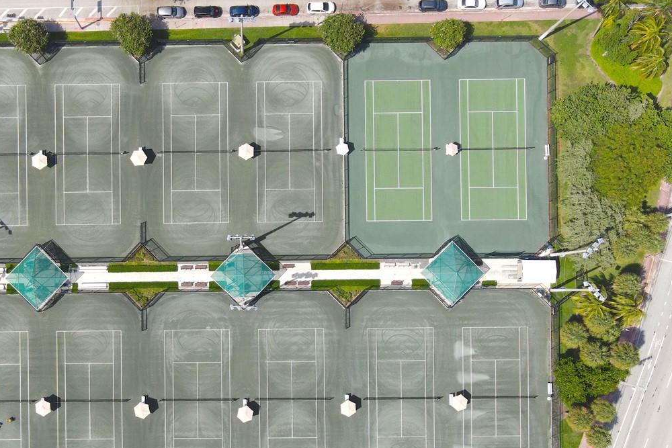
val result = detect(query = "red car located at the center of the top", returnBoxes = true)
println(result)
[271,2,299,17]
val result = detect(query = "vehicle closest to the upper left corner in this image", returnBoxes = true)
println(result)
[158,5,186,20]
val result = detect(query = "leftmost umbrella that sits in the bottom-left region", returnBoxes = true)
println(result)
[35,398,51,415]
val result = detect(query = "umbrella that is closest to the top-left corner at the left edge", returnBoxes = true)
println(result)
[33,151,48,169]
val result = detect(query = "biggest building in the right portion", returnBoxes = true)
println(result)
[422,241,484,305]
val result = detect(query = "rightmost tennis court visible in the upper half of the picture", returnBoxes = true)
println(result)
[445,42,548,257]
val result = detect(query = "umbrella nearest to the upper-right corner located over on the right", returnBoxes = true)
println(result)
[443,142,459,156]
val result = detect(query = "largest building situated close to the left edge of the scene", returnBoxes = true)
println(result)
[5,247,68,311]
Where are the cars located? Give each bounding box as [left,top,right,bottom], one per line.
[418,0,447,13]
[158,5,186,20]
[538,0,567,8]
[271,2,299,17]
[495,0,524,10]
[231,3,259,19]
[195,5,222,20]
[308,2,334,16]
[456,0,485,12]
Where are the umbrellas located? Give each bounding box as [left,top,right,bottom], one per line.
[238,143,254,161]
[133,401,150,419]
[35,398,51,415]
[340,399,356,415]
[443,142,459,156]
[450,392,466,410]
[130,149,148,166]
[336,141,349,156]
[33,151,48,169]
[236,405,253,422]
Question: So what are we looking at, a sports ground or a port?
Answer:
sports ground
